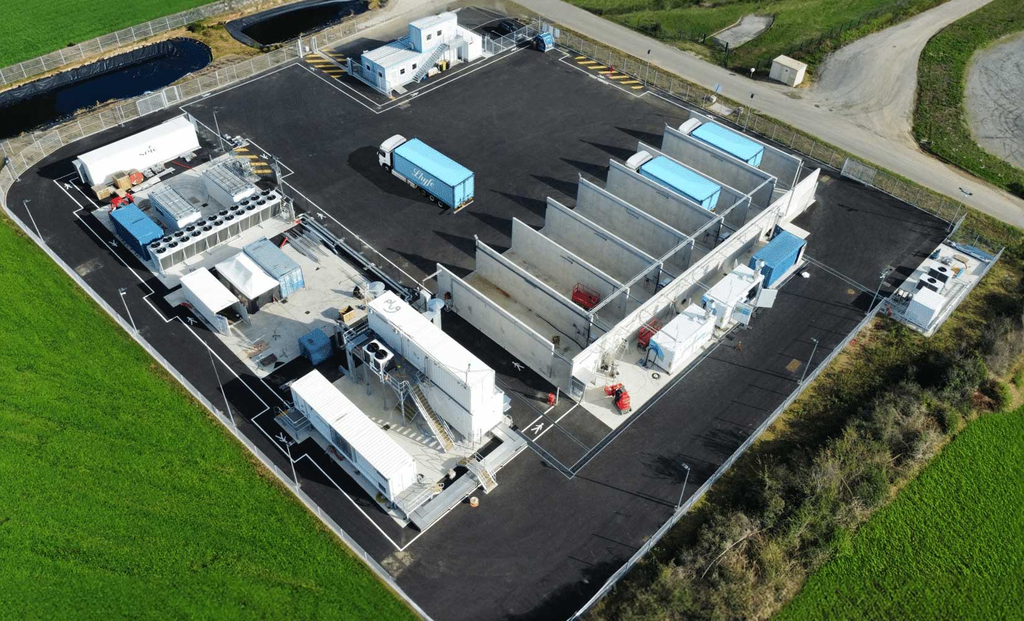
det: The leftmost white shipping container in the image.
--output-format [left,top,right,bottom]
[67,115,201,184]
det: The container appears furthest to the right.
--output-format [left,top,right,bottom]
[749,230,813,287]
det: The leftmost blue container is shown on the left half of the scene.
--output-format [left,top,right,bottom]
[111,205,166,264]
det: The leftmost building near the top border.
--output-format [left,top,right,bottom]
[360,10,460,93]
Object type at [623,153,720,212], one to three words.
truck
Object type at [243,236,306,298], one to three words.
shipping container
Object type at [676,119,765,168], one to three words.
truck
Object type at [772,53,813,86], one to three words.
shed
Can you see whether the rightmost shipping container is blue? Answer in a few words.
Yes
